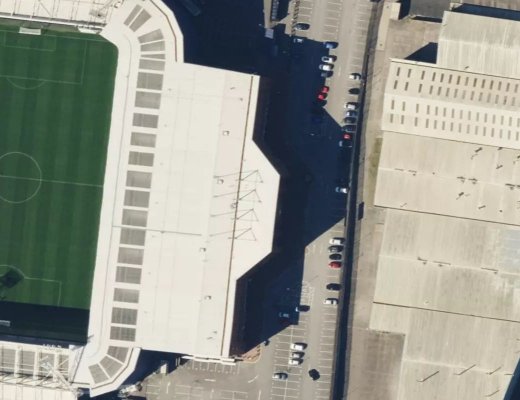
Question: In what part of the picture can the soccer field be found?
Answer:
left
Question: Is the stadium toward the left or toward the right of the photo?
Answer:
left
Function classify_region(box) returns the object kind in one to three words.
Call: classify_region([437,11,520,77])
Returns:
building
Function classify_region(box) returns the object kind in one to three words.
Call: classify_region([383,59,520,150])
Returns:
building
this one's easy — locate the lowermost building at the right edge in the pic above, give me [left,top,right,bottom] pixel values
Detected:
[370,302,520,400]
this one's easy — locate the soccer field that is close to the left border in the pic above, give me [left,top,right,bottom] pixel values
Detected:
[0,14,118,349]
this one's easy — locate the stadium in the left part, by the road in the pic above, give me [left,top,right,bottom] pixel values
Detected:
[0,0,289,400]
